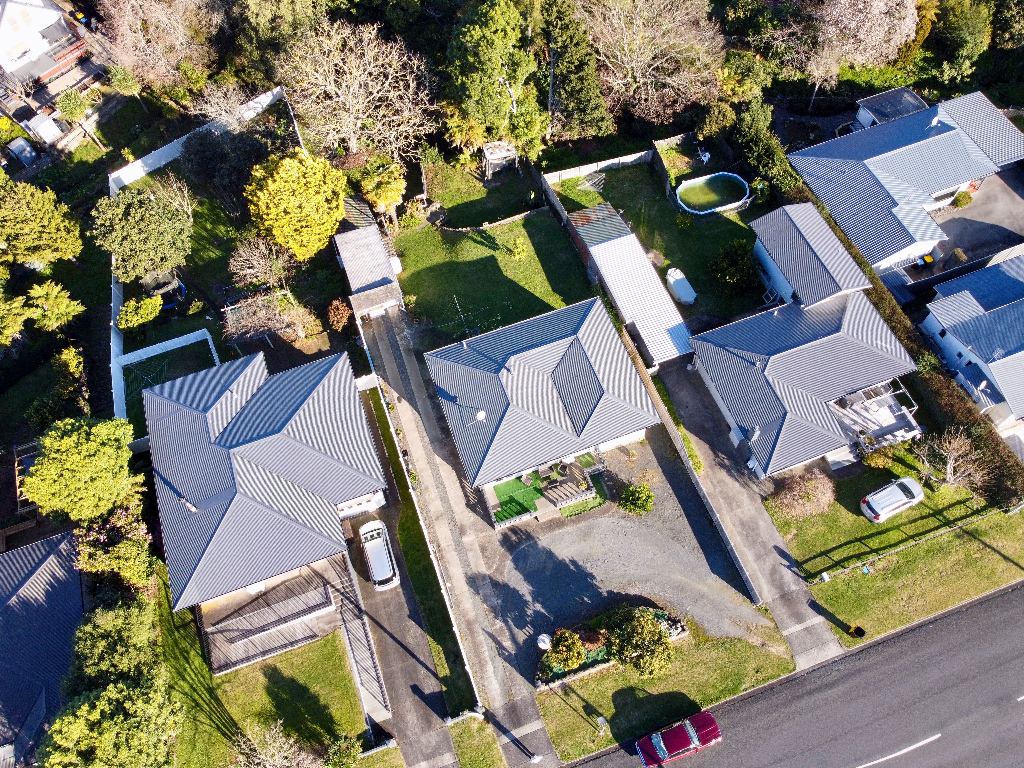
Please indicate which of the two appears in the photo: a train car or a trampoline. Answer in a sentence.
I can see a trampoline in this picture.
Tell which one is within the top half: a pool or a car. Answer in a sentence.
You can see a pool within the top half.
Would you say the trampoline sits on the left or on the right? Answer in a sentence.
The trampoline appears in the left half of the scene.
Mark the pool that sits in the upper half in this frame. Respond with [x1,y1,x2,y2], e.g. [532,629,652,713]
[674,172,749,222]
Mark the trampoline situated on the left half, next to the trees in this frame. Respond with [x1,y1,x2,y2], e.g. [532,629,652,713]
[139,267,191,315]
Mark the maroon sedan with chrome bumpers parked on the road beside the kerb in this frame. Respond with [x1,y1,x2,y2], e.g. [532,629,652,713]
[635,710,724,768]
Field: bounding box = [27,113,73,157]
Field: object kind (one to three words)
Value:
shed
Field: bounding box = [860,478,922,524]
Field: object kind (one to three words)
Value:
car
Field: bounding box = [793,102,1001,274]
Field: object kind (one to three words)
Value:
house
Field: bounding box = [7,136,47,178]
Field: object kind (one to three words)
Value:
shed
